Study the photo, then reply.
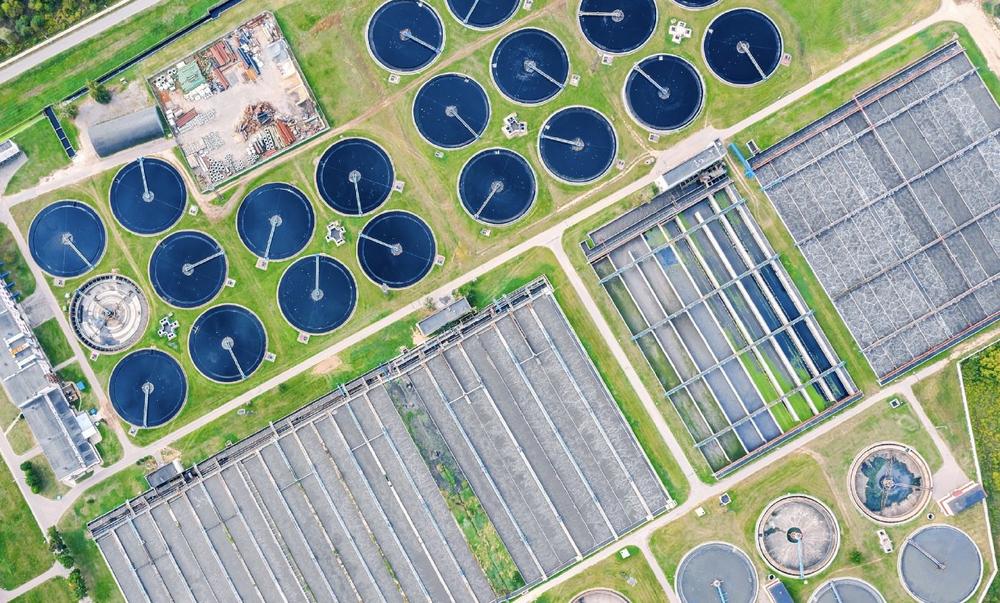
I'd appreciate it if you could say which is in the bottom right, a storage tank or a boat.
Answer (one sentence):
Visible in the bottom right is a storage tank.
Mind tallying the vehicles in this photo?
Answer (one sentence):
I count no vehicles.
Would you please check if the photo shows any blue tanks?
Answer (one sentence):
Yes, looking at the shot, I can spot a blue tank.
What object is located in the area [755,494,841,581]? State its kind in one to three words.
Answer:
storage tank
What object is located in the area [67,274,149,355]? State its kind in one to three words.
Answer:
storage tank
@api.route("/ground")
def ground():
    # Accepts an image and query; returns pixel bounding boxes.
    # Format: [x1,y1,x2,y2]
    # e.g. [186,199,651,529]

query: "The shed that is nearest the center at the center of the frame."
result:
[417,298,472,335]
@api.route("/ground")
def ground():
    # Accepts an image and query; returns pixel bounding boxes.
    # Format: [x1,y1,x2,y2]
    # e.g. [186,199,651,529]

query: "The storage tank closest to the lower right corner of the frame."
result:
[897,523,984,603]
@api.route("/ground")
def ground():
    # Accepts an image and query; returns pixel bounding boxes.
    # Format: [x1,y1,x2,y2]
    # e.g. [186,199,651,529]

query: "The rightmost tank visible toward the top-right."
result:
[701,5,784,88]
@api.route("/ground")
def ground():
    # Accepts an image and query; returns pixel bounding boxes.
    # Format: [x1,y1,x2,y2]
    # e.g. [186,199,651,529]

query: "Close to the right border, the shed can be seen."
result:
[936,481,986,517]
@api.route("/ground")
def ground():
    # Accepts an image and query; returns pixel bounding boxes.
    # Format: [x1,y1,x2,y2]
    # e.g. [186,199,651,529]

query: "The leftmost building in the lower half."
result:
[0,261,105,489]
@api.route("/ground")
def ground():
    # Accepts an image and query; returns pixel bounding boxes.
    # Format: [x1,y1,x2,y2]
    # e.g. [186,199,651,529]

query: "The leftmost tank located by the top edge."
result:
[365,0,445,74]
